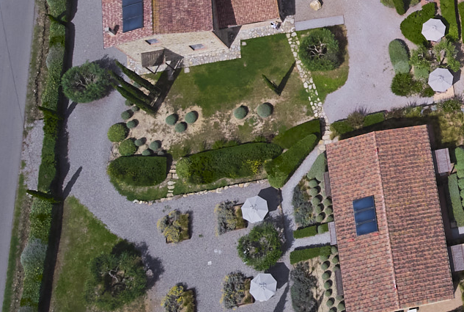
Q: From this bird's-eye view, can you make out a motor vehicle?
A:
No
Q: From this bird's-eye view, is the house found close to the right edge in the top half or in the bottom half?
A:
bottom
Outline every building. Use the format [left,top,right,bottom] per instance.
[101,0,282,57]
[325,125,455,312]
